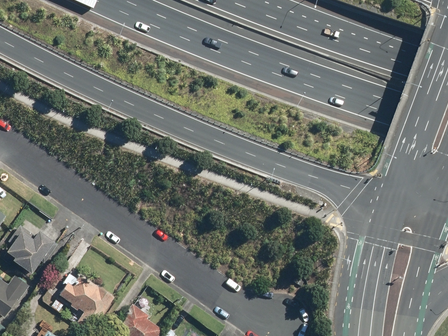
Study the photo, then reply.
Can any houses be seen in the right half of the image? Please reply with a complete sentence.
No, there's no house to be seen in the right half of the image.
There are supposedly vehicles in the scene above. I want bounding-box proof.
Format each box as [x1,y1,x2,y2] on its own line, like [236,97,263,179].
[172,315,184,329]
[105,232,120,243]
[329,30,340,38]
[0,189,6,198]
[244,330,256,336]
[204,38,220,49]
[0,119,10,130]
[36,184,50,196]
[154,229,168,240]
[76,0,96,8]
[262,292,274,298]
[296,323,308,336]
[298,308,309,322]
[282,66,298,77]
[329,96,344,106]
[214,306,228,318]
[160,270,174,282]
[135,22,150,32]
[224,278,239,290]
